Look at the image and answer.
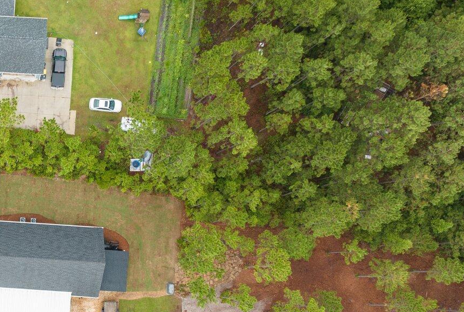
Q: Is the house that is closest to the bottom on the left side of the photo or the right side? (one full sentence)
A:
You can find the house that is closest to the bottom on the left side of the picture.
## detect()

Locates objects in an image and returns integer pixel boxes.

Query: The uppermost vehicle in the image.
[51,48,67,91]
